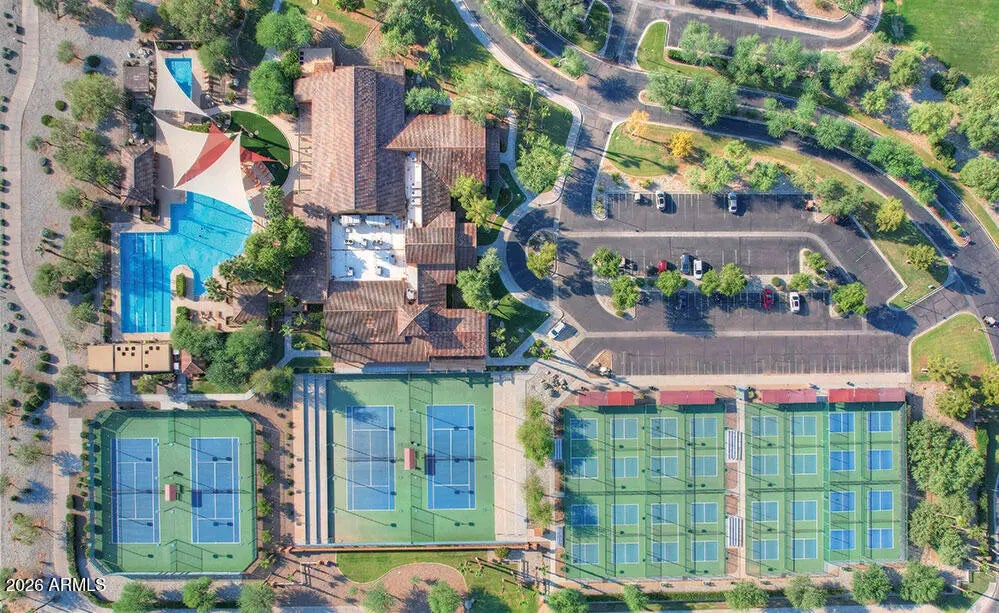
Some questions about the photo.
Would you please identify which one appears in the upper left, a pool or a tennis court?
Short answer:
pool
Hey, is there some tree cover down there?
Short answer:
Yes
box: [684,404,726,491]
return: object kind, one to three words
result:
sports court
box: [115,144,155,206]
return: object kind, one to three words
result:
building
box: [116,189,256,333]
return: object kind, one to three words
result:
swimming pool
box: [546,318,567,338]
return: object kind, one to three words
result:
car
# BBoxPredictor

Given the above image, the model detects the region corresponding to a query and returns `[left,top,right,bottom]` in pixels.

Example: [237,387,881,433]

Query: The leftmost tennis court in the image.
[96,412,175,573]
